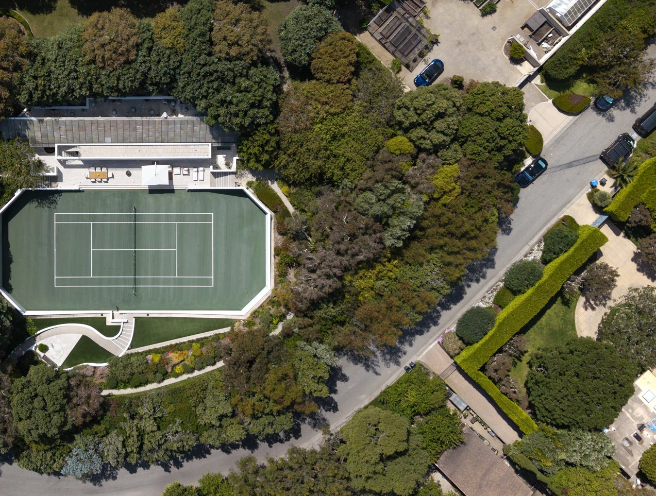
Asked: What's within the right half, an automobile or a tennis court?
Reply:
automobile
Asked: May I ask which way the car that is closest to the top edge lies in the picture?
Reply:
on a diagonal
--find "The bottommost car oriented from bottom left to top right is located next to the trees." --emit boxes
[515,157,547,186]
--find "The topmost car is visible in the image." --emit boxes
[413,58,444,86]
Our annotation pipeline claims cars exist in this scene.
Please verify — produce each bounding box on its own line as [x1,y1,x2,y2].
[592,88,622,113]
[515,157,547,186]
[633,103,656,135]
[602,134,634,163]
[413,58,444,86]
